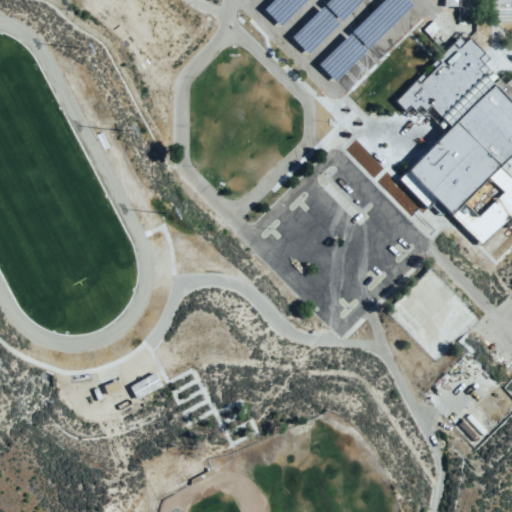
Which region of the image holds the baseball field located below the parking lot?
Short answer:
bottom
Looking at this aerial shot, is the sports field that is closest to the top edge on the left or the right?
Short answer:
left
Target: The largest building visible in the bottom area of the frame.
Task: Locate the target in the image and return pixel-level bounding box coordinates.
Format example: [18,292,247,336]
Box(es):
[131,372,164,399]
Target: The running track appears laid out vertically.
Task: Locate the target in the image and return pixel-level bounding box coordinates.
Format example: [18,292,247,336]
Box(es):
[0,13,157,354]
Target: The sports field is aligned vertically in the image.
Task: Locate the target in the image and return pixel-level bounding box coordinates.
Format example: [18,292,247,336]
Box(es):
[0,34,137,334]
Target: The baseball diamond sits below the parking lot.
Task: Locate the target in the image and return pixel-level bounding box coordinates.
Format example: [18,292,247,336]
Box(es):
[159,414,402,512]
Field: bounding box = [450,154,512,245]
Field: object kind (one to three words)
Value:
building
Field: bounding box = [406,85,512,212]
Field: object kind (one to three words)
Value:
building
